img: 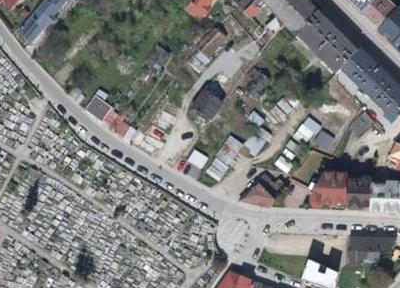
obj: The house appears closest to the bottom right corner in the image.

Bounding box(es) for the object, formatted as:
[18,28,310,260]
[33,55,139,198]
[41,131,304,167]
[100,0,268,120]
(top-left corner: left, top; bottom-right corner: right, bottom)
[347,234,397,265]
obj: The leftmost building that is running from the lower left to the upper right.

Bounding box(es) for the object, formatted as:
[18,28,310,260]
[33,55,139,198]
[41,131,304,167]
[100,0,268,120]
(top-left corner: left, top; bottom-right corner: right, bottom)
[18,0,69,44]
